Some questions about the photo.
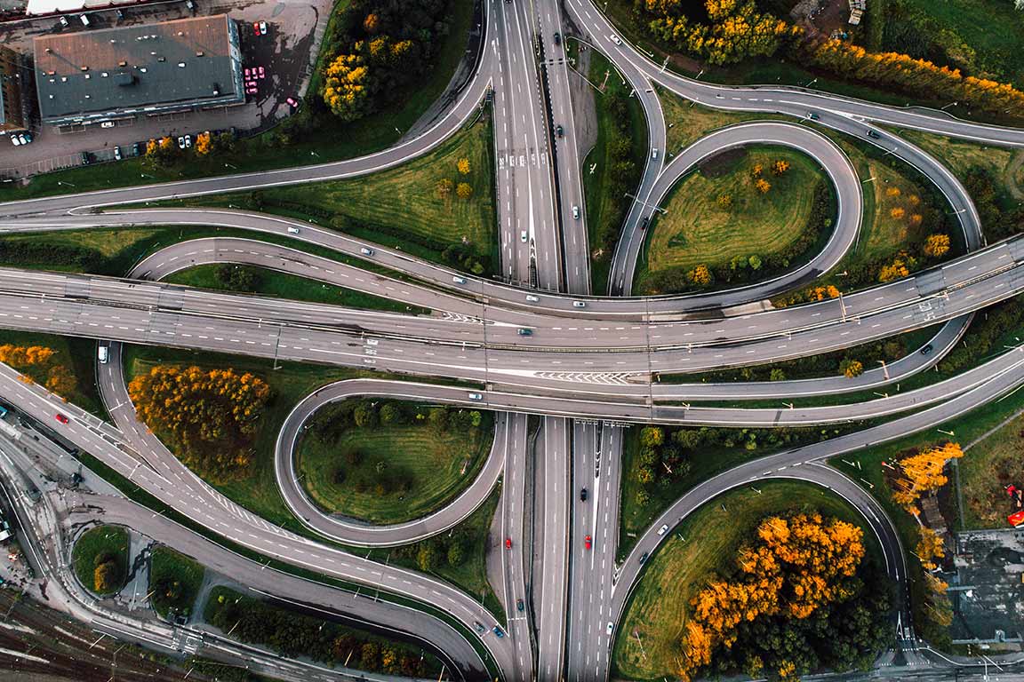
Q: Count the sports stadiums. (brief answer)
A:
zero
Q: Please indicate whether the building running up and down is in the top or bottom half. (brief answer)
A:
top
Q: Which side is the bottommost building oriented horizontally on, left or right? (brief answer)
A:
left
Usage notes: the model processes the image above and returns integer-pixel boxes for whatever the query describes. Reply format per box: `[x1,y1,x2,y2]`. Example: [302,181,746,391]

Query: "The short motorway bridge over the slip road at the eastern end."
[937,243,1019,316]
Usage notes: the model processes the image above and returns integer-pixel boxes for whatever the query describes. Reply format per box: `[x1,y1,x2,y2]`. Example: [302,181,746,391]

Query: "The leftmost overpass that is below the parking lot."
[89,278,165,348]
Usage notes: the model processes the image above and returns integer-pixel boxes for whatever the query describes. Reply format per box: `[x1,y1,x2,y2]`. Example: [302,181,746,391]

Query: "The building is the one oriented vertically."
[0,47,39,138]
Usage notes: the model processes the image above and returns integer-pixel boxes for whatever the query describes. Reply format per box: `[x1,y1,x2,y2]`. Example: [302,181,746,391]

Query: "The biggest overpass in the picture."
[430,279,659,421]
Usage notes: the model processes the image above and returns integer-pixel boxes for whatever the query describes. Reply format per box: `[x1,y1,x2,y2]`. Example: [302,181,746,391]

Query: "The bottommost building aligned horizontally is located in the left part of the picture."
[33,13,246,127]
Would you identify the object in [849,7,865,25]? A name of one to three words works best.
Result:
vehicle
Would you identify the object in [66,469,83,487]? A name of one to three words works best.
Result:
vehicle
